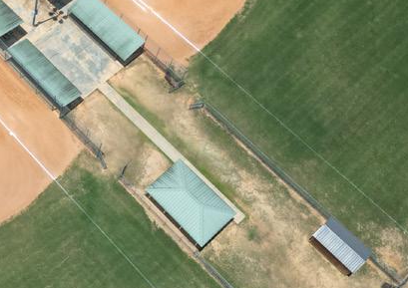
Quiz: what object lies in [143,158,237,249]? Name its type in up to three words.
building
